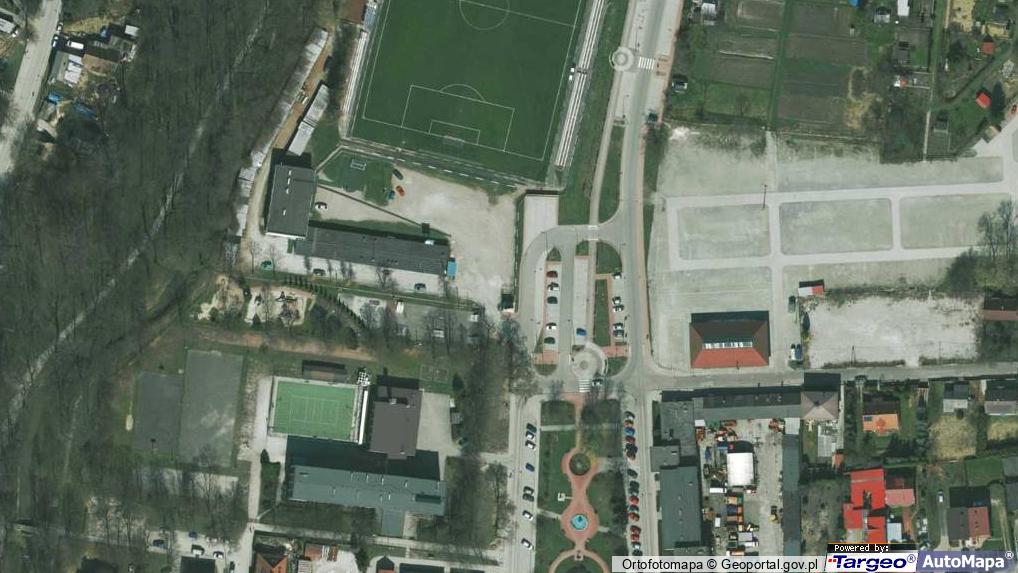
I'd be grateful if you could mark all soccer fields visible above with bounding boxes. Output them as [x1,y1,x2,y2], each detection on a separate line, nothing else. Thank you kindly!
[351,0,588,180]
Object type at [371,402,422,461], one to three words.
building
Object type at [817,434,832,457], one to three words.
greenhouse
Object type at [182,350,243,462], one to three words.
sports court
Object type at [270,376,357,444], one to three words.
sports court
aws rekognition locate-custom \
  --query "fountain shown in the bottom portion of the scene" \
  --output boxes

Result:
[571,514,589,532]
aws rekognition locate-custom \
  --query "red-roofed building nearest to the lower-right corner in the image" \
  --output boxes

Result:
[968,507,990,539]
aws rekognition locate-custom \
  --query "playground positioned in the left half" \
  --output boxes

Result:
[247,286,307,328]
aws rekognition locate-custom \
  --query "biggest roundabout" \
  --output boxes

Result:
[572,343,606,380]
